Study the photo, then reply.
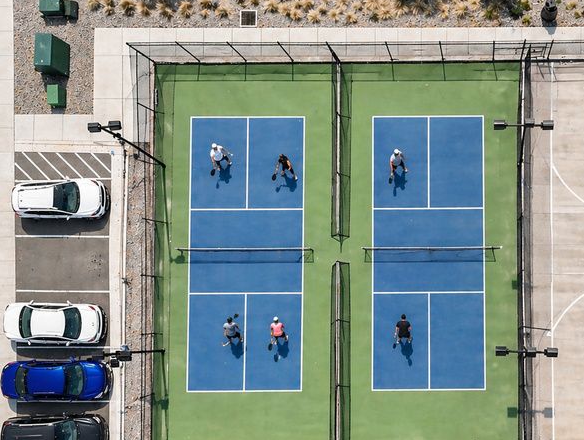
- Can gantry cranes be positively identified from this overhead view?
No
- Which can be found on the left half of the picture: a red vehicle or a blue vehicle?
blue vehicle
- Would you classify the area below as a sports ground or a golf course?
sports ground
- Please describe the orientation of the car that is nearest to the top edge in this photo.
horizontally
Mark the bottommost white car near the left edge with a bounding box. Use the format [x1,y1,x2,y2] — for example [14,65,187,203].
[4,300,109,347]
